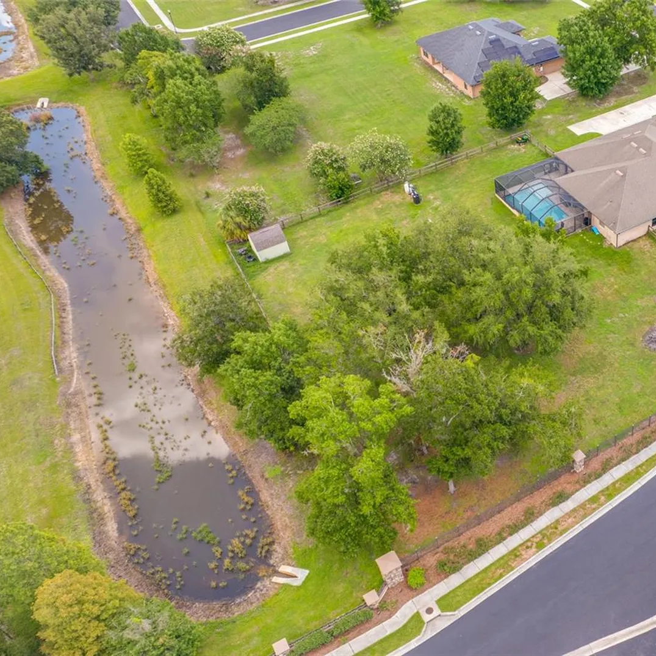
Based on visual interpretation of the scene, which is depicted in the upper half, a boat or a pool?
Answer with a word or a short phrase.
pool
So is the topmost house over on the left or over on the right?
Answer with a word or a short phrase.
right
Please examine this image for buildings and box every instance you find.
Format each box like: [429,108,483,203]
[248,224,290,262]
[548,116,656,247]
[414,16,564,97]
